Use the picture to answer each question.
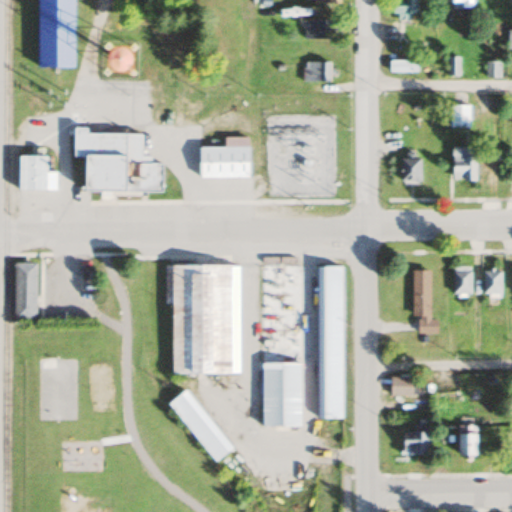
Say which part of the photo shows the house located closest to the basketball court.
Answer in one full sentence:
The house located closest to the basketball court is in the left part of the image.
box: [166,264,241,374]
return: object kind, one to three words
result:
building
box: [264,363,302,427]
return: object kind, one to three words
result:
shed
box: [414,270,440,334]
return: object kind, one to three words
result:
house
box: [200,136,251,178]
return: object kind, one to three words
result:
building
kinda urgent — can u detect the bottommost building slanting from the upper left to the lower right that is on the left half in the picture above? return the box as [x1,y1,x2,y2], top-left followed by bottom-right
[170,390,235,464]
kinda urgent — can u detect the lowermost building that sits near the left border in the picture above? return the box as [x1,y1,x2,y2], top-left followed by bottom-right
[14,262,38,318]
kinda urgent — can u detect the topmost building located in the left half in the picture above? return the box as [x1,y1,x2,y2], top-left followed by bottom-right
[39,0,76,68]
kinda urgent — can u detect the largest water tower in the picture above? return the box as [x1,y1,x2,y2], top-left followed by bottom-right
[103,41,138,76]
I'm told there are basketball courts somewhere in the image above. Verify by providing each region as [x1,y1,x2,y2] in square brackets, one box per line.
[40,356,78,424]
